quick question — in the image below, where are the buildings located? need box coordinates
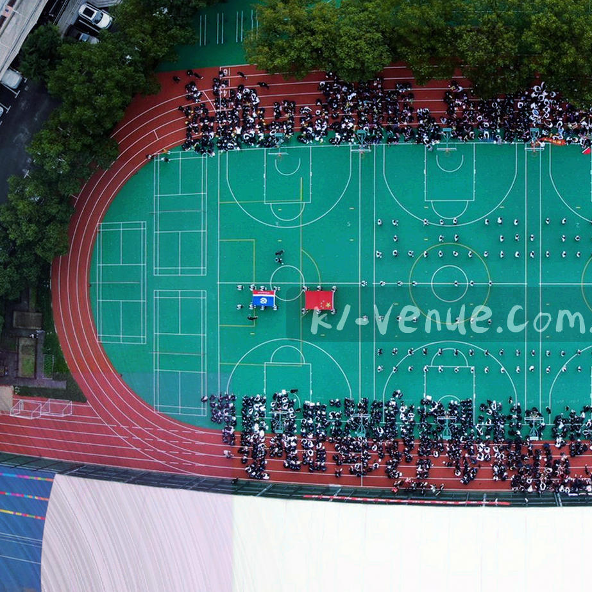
[0,0,56,77]
[0,451,592,592]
